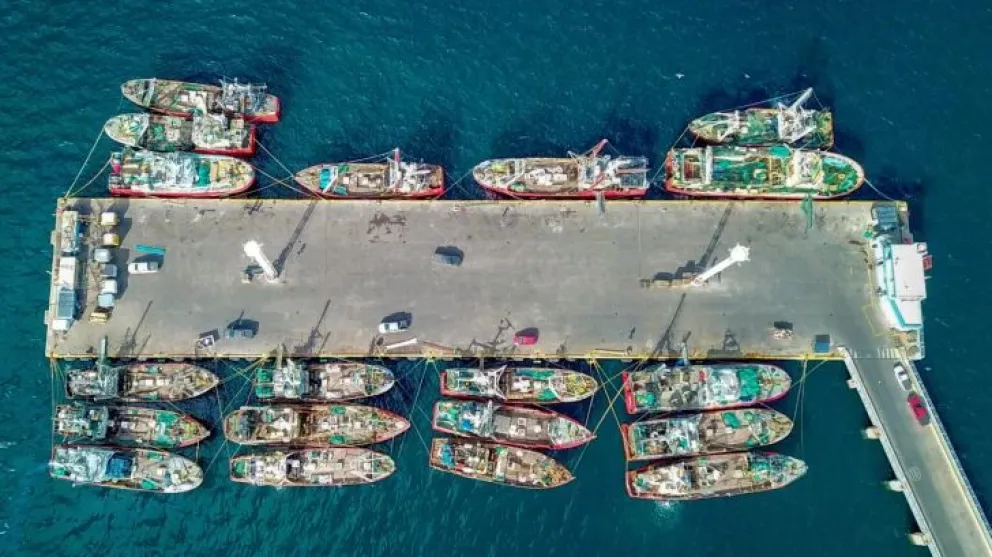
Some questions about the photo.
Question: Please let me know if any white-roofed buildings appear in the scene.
Yes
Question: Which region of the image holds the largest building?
right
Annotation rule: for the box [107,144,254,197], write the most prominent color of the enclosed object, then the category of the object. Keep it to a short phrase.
white boat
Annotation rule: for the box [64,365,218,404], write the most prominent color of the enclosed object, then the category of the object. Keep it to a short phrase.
gray boat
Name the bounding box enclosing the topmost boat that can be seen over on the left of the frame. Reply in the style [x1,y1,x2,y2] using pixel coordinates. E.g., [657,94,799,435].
[119,65,282,123]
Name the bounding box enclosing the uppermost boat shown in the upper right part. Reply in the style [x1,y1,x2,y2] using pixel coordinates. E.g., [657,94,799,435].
[690,82,834,151]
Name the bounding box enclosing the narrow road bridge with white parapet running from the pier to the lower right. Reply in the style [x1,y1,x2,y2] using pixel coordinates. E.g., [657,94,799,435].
[839,337,992,557]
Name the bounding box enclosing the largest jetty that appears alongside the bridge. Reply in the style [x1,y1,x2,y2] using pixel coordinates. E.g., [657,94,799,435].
[44,199,922,362]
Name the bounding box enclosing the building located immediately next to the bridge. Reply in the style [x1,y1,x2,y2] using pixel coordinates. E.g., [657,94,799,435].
[872,238,931,331]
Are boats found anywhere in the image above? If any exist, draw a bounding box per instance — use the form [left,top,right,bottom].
[442,365,599,404]
[107,144,254,197]
[662,146,865,200]
[474,140,653,198]
[224,403,410,446]
[294,148,443,199]
[618,410,795,459]
[230,448,395,487]
[64,365,218,404]
[623,451,808,497]
[690,82,834,151]
[46,446,204,494]
[119,65,282,123]
[431,399,601,447]
[428,438,574,486]
[51,405,209,447]
[254,362,395,401]
[622,366,792,412]
[103,103,261,158]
